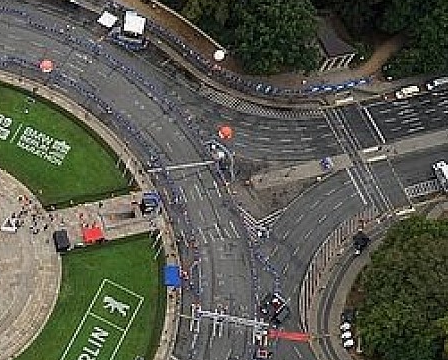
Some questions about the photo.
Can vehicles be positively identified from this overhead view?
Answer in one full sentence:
Yes, this view includes a vehicle.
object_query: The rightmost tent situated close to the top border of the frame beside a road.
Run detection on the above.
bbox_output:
[122,14,145,35]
